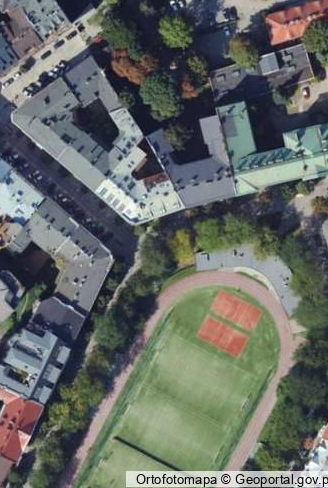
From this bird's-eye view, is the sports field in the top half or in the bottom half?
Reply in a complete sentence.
Seen from above, the sports field lies in the bottom half of the view.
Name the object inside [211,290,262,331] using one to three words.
sports court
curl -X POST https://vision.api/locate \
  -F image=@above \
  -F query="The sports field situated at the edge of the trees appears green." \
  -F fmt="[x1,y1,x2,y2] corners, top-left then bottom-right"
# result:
[66,278,285,488]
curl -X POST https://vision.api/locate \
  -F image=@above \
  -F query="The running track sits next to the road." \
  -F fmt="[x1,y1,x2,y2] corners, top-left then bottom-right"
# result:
[53,270,296,488]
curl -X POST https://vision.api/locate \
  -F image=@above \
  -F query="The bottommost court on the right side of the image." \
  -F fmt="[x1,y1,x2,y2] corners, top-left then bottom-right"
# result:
[196,316,249,359]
